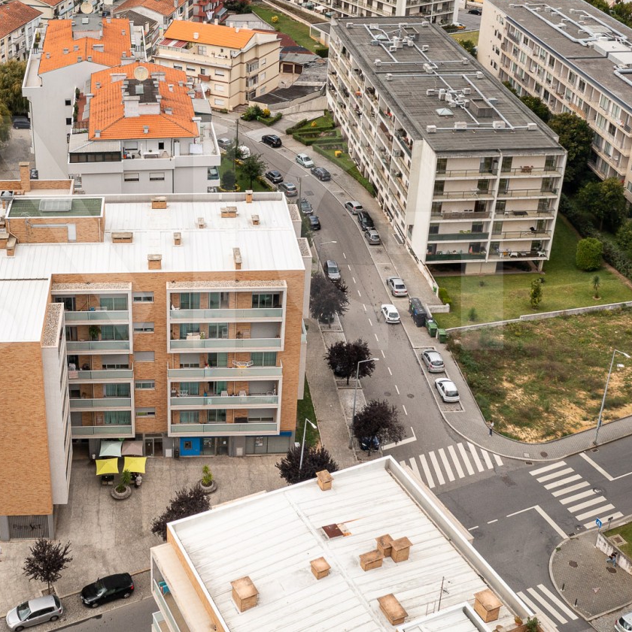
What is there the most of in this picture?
buildings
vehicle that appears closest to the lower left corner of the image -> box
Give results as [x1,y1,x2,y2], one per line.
[2,594,67,632]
